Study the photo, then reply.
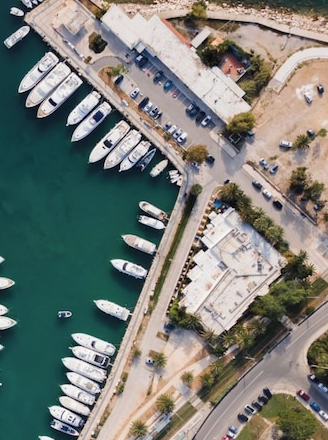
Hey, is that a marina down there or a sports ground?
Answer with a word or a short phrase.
marina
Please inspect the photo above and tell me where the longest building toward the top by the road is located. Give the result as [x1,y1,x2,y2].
[98,4,252,127]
